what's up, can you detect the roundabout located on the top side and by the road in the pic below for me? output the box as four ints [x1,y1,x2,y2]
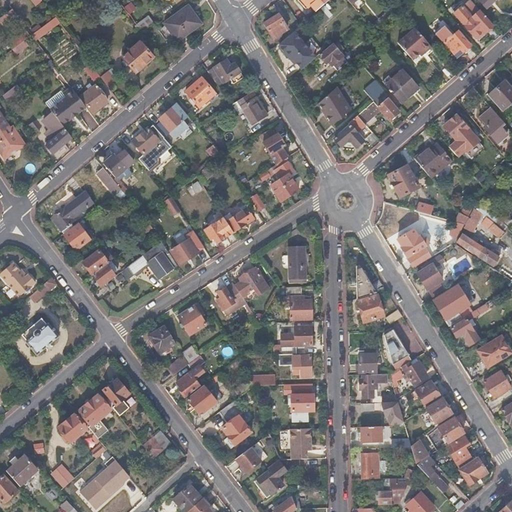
[318,173,373,228]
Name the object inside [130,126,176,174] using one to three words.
house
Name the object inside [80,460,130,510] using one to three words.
building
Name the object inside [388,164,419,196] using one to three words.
house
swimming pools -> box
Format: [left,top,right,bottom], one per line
[24,163,38,175]
[454,260,470,274]
[222,346,234,358]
